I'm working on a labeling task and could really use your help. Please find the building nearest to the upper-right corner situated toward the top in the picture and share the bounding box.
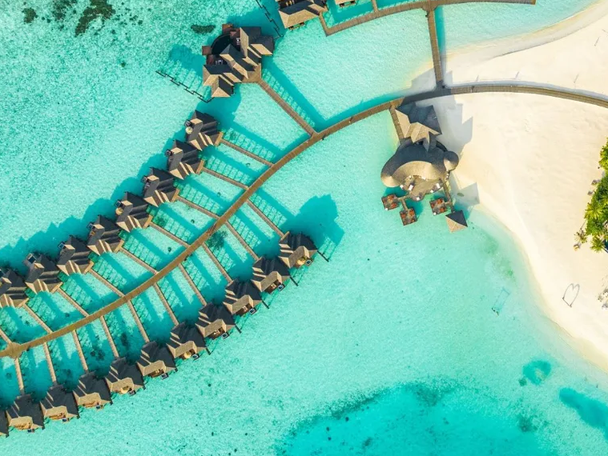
[395,99,443,144]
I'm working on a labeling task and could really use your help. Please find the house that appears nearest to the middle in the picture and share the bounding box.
[275,230,322,281]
